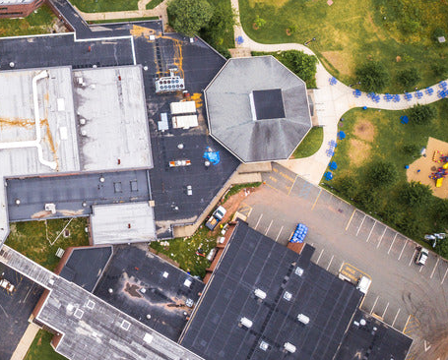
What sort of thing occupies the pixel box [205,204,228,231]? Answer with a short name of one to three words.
truck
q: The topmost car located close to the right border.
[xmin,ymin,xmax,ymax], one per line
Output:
[416,246,433,269]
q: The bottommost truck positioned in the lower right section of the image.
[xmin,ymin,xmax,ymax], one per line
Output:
[353,269,374,296]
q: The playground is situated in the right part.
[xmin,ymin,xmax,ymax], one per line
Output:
[407,137,448,194]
